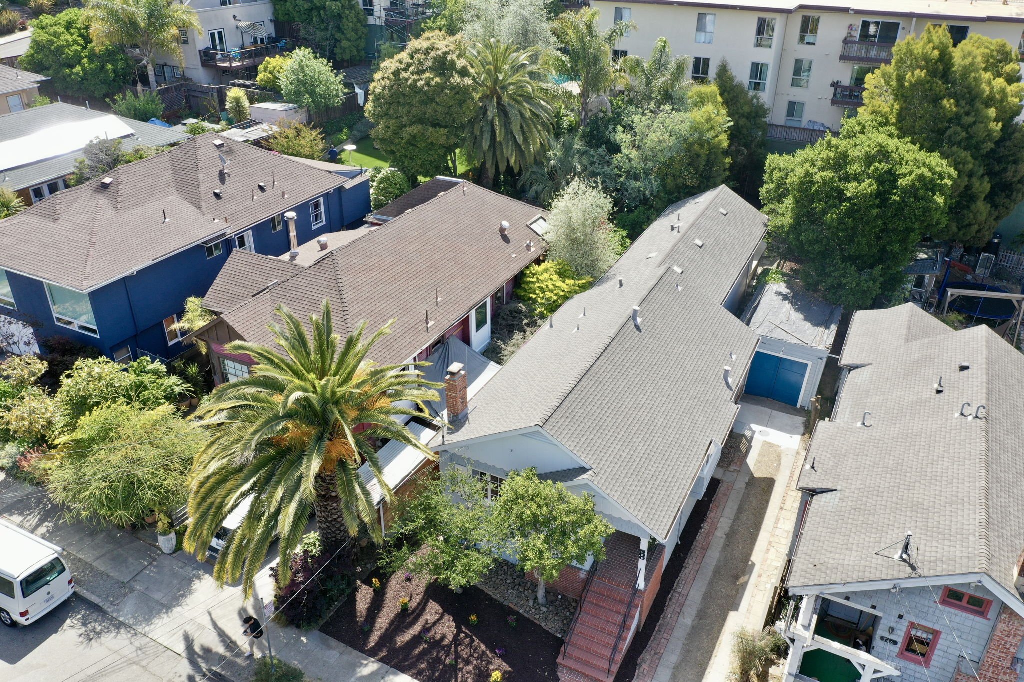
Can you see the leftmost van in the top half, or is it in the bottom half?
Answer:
bottom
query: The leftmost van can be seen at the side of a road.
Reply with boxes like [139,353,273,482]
[0,531,72,637]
